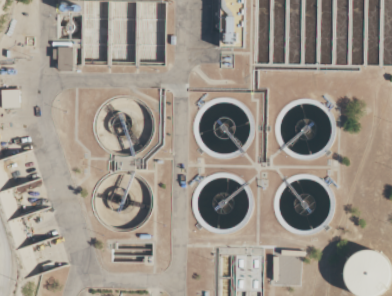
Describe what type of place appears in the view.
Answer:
industrial area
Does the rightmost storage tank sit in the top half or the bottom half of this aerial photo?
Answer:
bottom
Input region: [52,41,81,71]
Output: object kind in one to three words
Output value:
building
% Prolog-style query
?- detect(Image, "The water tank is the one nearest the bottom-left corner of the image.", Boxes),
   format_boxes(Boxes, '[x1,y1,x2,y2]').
[92,170,152,230]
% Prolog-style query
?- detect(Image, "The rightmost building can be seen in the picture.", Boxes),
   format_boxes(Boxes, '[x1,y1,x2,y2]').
[269,250,306,284]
